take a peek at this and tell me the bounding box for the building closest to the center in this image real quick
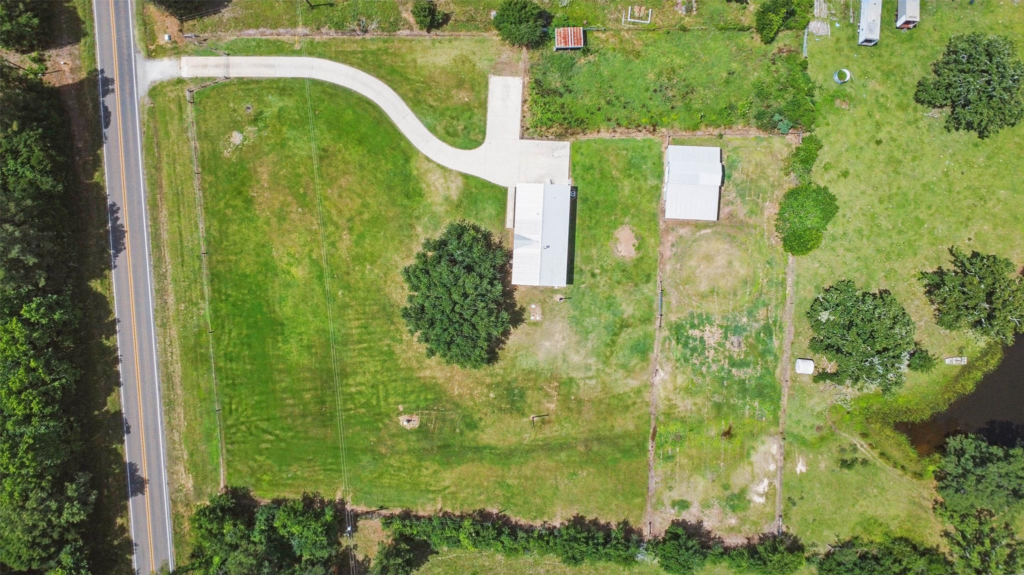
[512,183,571,286]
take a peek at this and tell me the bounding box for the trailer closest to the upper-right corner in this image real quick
[894,0,920,28]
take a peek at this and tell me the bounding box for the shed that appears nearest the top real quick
[555,28,583,52]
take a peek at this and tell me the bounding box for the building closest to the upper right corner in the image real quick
[661,145,723,221]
